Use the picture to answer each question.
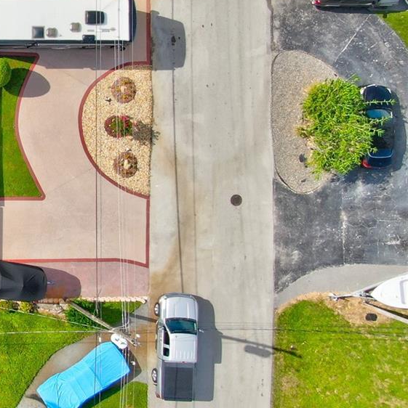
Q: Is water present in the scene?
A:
No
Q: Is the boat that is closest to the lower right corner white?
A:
Yes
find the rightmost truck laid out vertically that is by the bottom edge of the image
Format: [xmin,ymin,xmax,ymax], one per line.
[150,291,199,400]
